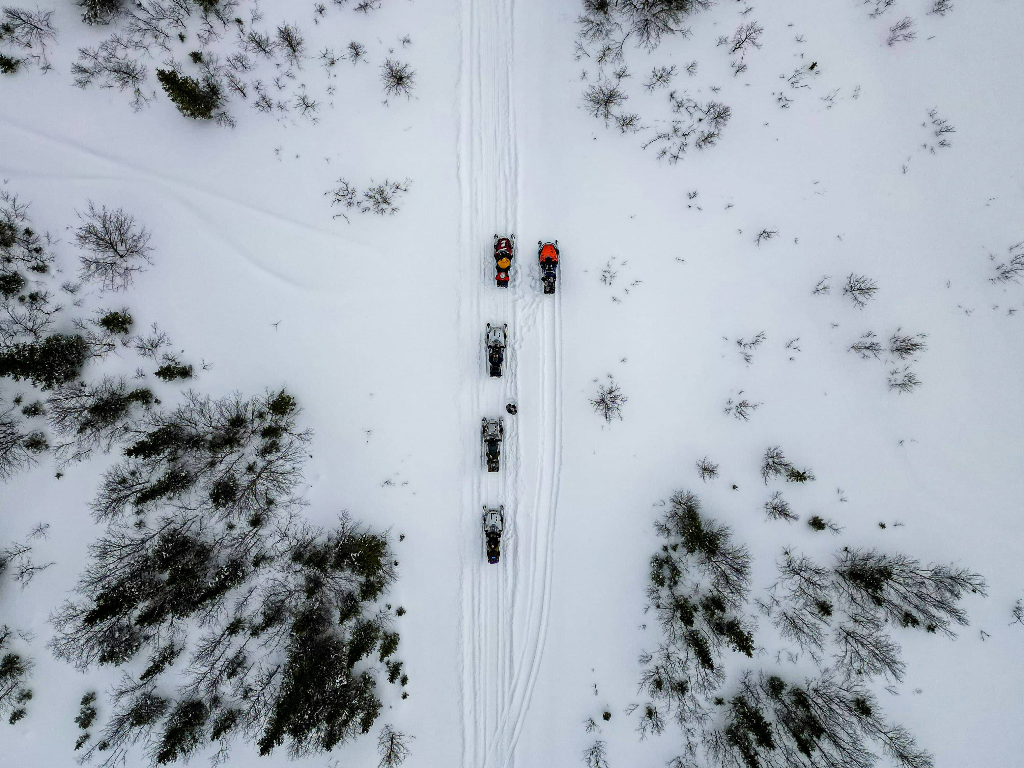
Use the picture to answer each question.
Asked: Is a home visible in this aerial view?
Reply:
No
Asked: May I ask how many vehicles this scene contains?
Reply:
5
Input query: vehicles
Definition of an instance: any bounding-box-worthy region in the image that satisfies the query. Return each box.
[538,239,560,295]
[493,233,514,289]
[483,416,503,473]
[486,322,507,378]
[483,505,503,561]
